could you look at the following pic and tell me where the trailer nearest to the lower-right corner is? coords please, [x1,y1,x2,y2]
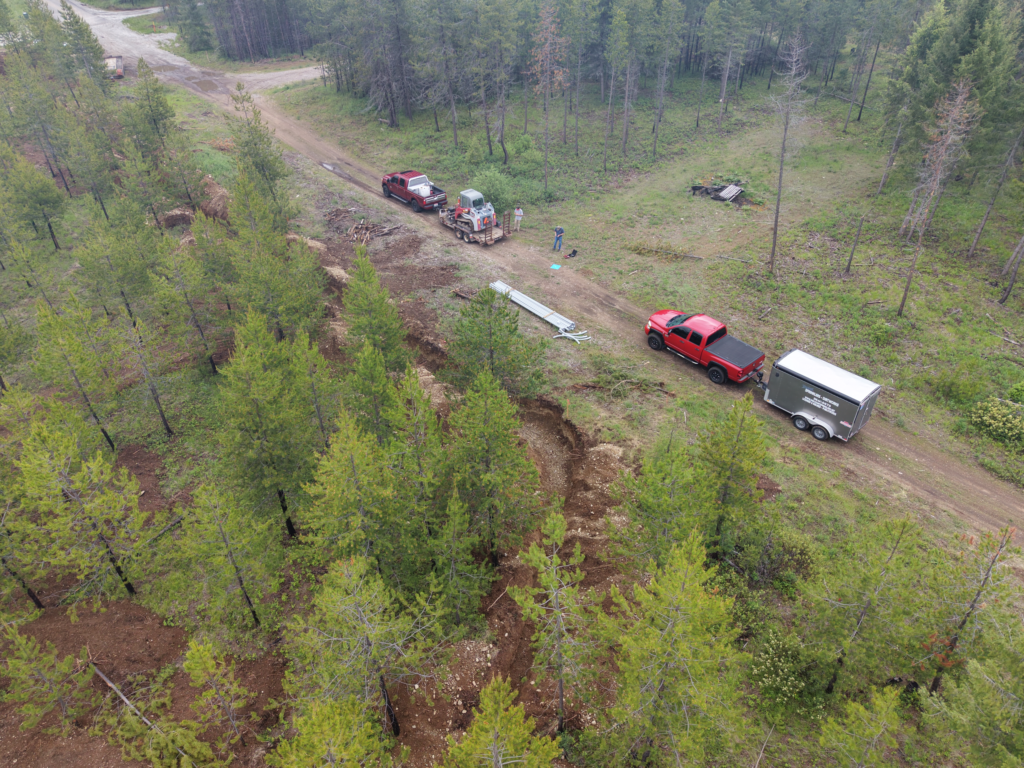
[754,348,882,440]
